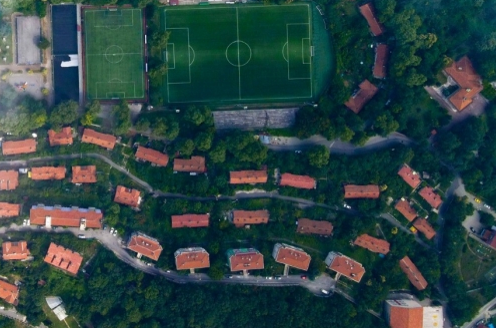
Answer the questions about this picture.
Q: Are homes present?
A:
Yes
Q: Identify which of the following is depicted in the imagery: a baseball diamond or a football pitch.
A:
football pitch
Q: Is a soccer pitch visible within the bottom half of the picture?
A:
No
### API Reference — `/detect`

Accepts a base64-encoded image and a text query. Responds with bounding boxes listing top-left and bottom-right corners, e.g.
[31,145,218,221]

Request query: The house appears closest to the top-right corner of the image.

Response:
[439,53,484,113]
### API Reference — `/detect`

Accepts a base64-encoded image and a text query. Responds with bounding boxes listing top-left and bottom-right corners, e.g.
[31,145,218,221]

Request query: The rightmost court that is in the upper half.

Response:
[50,3,84,106]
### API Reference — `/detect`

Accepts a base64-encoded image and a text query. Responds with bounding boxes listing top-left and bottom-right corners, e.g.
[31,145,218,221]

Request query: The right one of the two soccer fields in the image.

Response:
[158,0,339,111]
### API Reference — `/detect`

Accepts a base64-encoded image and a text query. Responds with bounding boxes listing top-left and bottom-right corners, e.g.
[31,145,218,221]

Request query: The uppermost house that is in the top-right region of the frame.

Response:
[357,3,382,35]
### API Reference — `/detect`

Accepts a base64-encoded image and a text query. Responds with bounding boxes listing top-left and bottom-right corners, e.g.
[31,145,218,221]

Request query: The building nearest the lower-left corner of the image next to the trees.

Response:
[0,278,21,304]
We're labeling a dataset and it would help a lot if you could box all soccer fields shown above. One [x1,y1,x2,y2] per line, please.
[80,3,150,105]
[158,0,339,111]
